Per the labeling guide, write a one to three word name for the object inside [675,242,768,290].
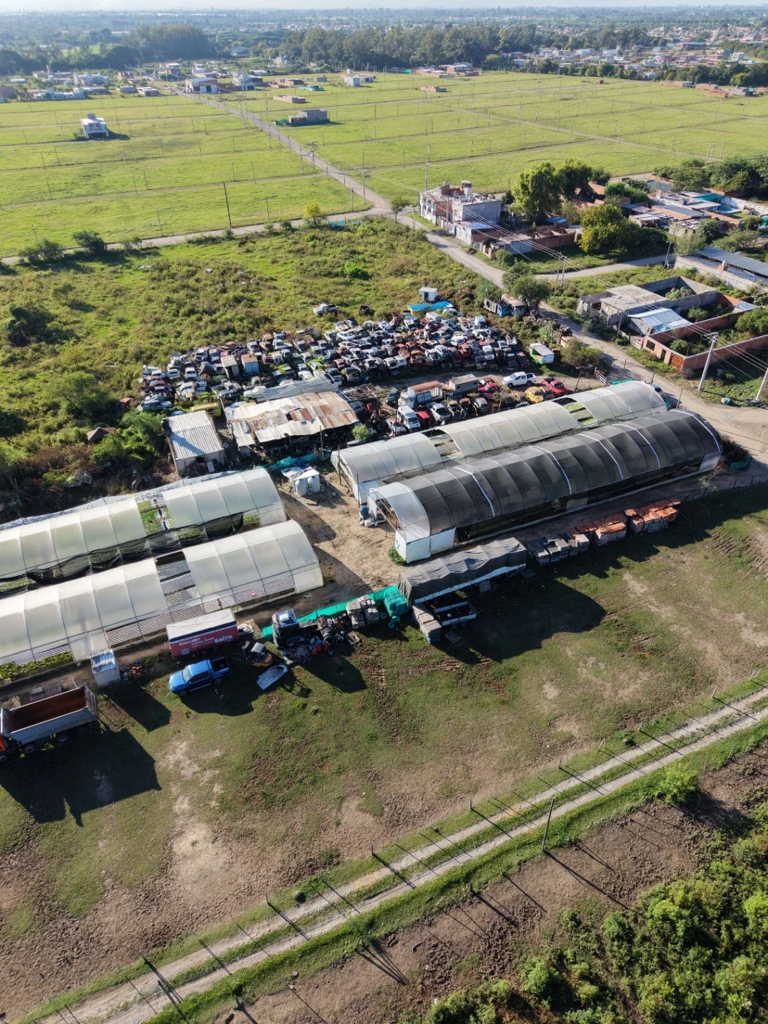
shed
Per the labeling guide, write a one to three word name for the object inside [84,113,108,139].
house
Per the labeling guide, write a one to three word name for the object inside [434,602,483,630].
trailer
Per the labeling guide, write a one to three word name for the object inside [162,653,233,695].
truck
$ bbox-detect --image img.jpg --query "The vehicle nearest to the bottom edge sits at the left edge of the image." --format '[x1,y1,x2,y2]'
[0,684,102,767]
